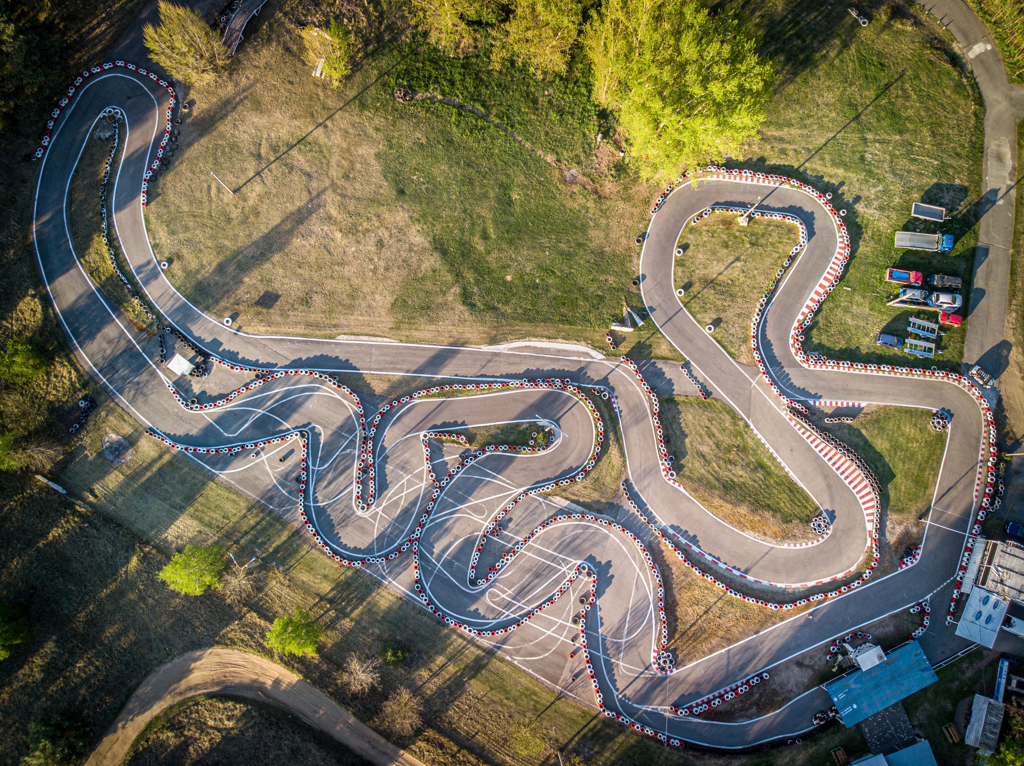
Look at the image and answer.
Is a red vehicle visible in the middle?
No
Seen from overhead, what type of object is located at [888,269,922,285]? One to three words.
vehicle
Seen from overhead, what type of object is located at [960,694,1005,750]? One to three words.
shed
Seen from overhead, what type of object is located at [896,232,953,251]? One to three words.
vehicle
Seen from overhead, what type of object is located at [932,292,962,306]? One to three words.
car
